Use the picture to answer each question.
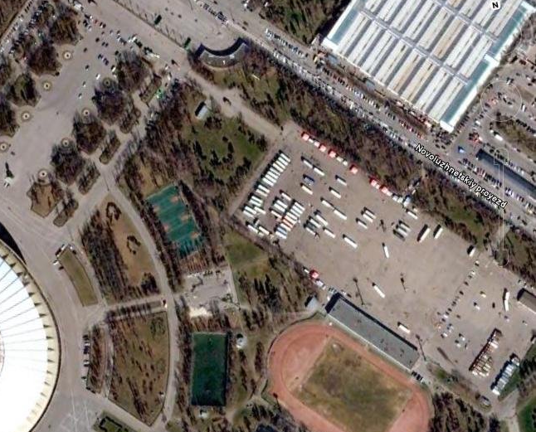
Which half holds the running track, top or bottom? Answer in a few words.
bottom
